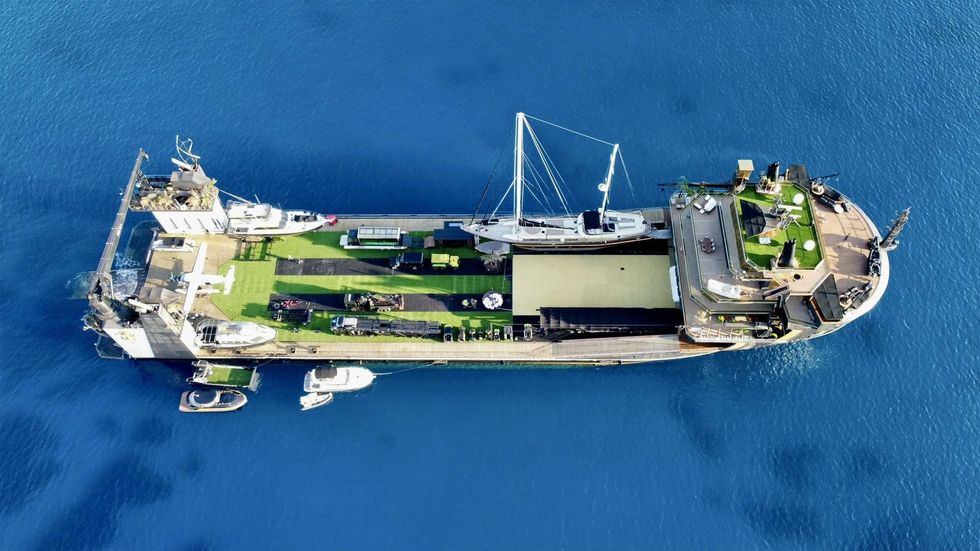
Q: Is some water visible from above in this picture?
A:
Yes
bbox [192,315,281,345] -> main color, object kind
white boat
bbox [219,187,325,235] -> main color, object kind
white boat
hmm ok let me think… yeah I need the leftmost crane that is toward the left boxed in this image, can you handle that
[69,146,153,338]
